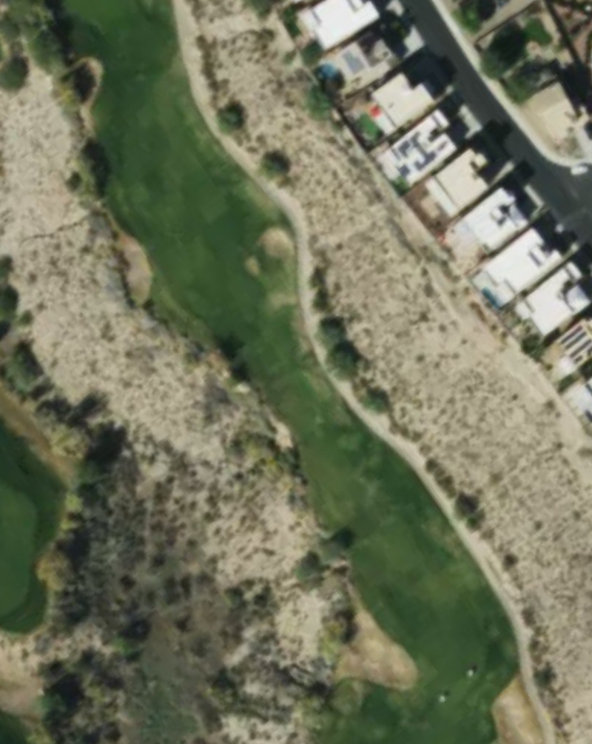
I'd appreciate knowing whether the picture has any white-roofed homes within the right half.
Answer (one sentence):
Yes, you'll find a white-roofed home within the right half.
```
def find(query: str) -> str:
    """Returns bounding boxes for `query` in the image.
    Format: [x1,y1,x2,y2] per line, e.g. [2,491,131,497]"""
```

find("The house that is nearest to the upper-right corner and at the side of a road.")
[530,82,577,140]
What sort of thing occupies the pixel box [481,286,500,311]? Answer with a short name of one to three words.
swimming pool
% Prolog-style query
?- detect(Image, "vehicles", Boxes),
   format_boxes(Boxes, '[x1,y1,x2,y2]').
[438,694,444,704]
[570,165,587,174]
[584,121,592,140]
[467,668,473,677]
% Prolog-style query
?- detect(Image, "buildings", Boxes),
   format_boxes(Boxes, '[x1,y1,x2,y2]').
[558,319,592,374]
[487,227,563,305]
[297,0,379,49]
[516,263,591,337]
[371,72,435,133]
[341,38,392,94]
[377,109,457,185]
[461,186,528,255]
[530,82,577,140]
[426,148,489,215]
